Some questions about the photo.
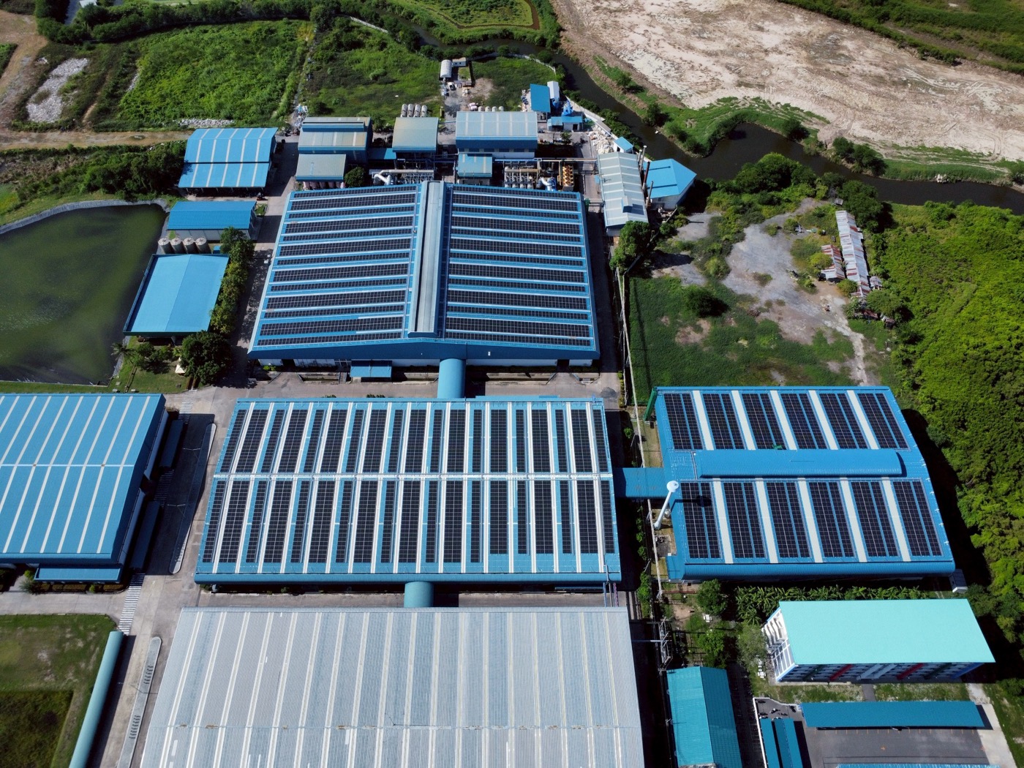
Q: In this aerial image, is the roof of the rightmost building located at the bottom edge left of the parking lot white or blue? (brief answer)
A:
blue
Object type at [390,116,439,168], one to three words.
shed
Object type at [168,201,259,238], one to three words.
shed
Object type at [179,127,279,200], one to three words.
building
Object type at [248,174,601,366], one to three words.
building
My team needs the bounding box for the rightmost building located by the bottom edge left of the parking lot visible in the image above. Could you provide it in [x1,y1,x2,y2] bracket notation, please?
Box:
[666,667,740,768]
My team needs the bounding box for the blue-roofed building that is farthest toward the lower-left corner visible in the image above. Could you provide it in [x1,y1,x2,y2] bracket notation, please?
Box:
[0,394,192,586]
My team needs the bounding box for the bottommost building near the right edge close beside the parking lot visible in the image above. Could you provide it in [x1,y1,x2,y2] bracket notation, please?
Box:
[764,599,994,679]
